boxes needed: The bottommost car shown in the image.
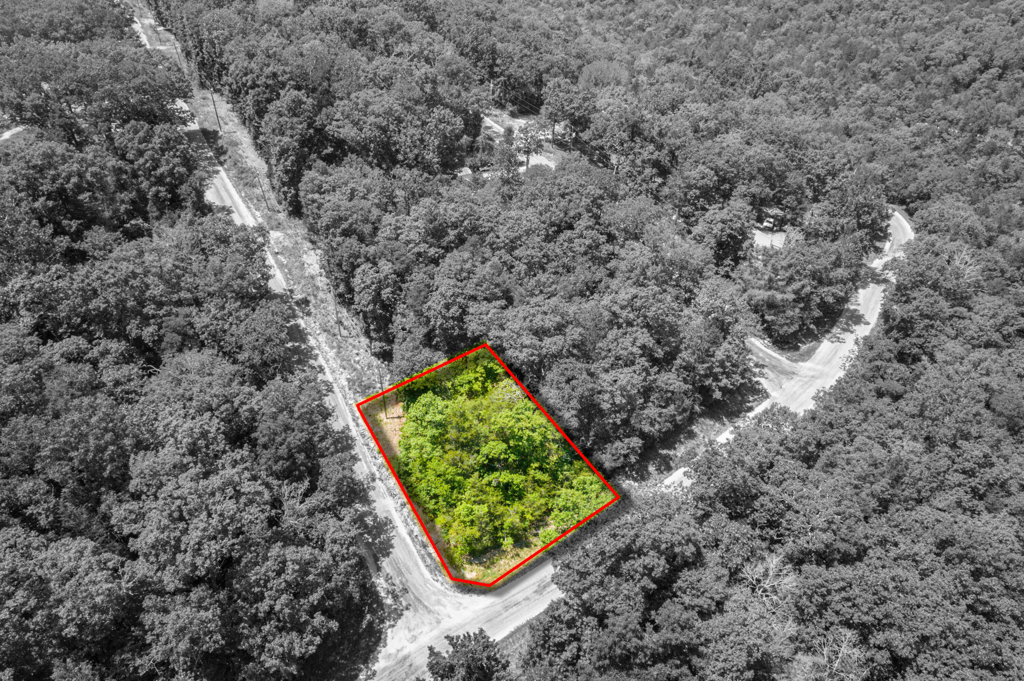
[760,208,774,228]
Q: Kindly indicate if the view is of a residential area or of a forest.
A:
forest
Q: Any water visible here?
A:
No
